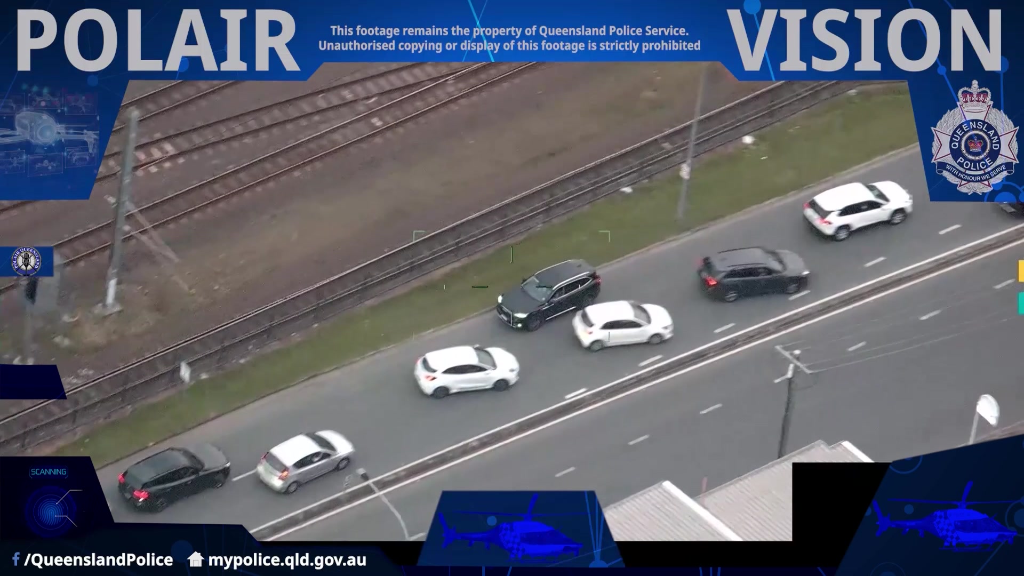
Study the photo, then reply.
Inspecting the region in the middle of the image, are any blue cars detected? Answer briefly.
No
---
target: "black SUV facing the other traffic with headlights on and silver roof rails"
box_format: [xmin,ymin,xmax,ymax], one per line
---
[495,254,603,332]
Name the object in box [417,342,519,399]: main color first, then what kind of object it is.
white car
